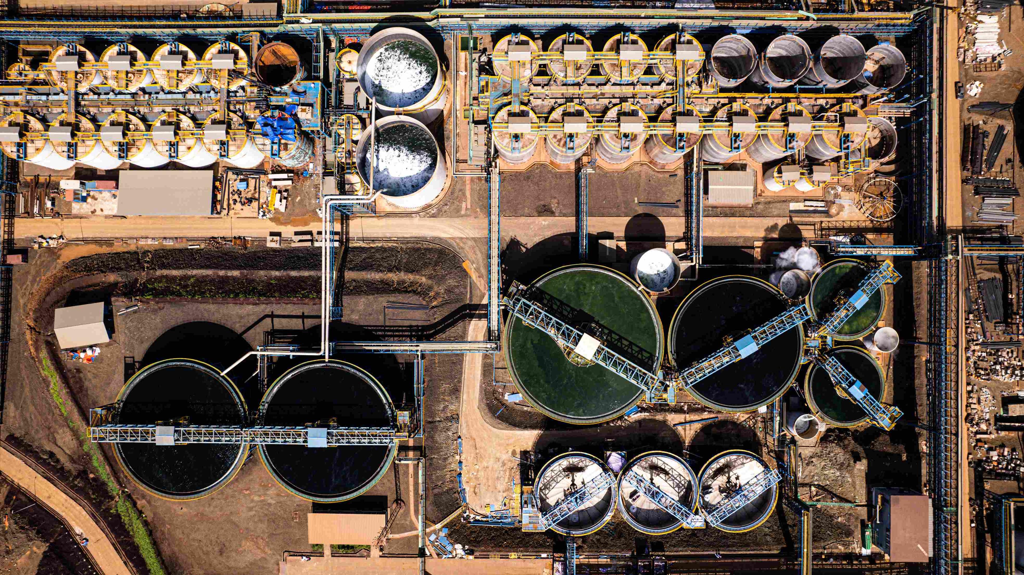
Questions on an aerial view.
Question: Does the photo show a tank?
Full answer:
Yes, the picture does show a tank.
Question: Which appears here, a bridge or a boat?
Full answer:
The one in the frame is a bridge.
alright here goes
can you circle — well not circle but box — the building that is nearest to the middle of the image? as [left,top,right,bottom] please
[598,239,616,262]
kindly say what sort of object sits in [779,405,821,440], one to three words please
storage tank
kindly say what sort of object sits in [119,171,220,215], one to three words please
building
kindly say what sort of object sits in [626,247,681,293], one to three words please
storage tank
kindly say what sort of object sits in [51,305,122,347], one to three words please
building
